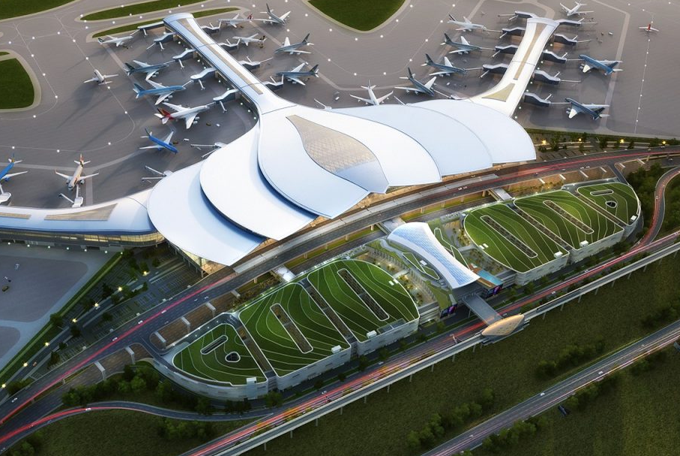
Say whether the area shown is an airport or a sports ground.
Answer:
airport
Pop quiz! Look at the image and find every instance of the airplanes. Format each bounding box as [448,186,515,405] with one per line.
[158,102,208,126]
[637,17,663,34]
[448,15,486,32]
[143,131,178,154]
[566,99,607,117]
[58,158,98,191]
[348,78,395,105]
[442,35,480,53]
[560,0,593,18]
[580,56,616,72]
[126,60,169,79]
[233,33,266,46]
[399,69,437,97]
[89,72,116,84]
[275,37,311,55]
[278,63,318,82]
[424,54,465,74]
[259,6,291,26]
[0,158,22,182]
[221,15,253,27]
[98,35,133,47]
[135,80,184,104]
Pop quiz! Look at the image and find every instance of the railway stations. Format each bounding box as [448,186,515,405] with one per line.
[479,312,531,343]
